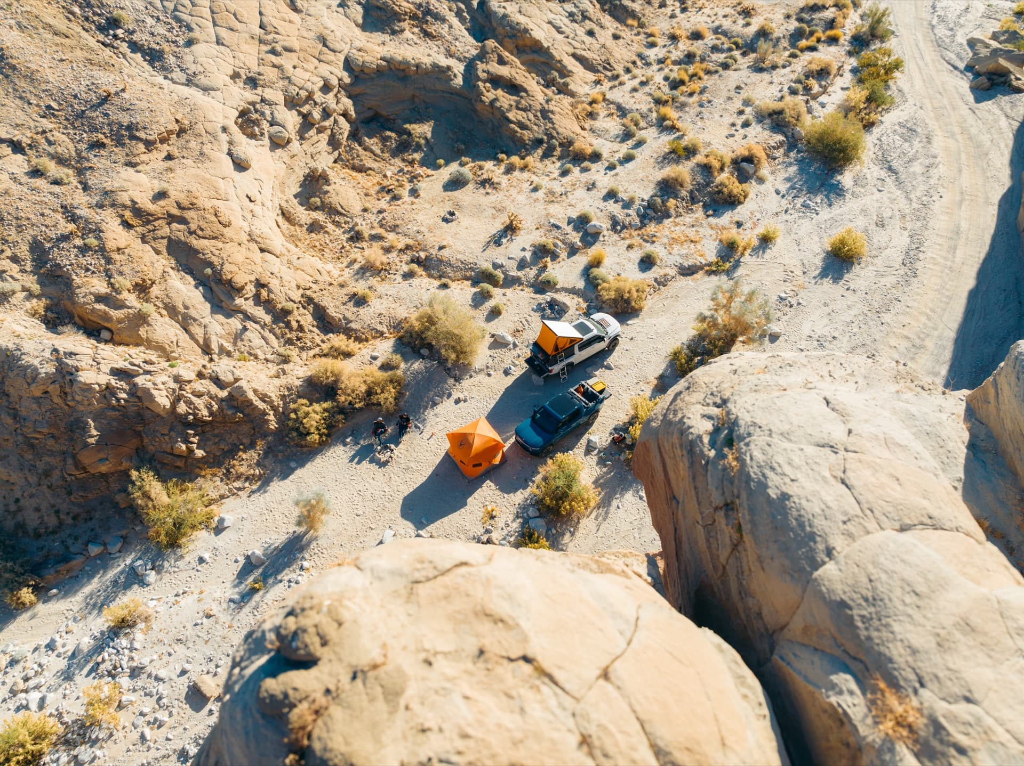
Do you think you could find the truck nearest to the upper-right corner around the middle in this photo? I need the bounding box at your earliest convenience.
[523,312,627,375]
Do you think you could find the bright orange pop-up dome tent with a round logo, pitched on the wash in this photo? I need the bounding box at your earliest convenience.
[443,417,510,484]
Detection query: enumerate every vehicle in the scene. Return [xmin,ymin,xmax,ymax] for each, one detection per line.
[508,380,611,459]
[523,312,627,375]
